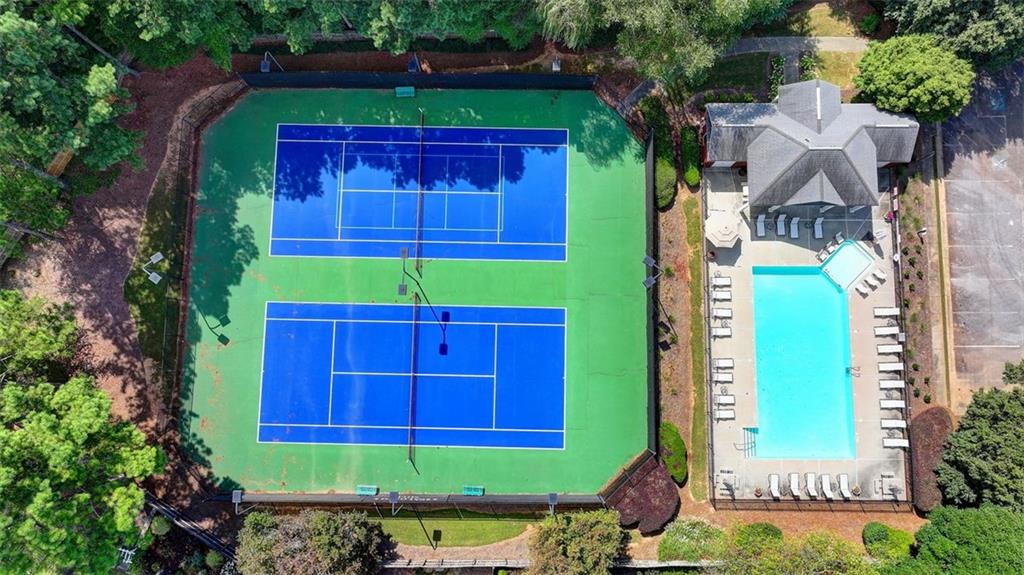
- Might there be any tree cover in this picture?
Yes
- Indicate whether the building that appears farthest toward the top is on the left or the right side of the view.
right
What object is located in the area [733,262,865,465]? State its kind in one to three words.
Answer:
swimming pool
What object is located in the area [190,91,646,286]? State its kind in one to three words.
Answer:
tennis court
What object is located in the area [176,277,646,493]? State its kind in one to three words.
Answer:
tennis court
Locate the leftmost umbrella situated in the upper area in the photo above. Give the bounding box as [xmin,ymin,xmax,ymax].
[705,213,740,247]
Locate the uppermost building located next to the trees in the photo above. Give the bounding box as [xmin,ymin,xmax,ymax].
[703,79,918,216]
